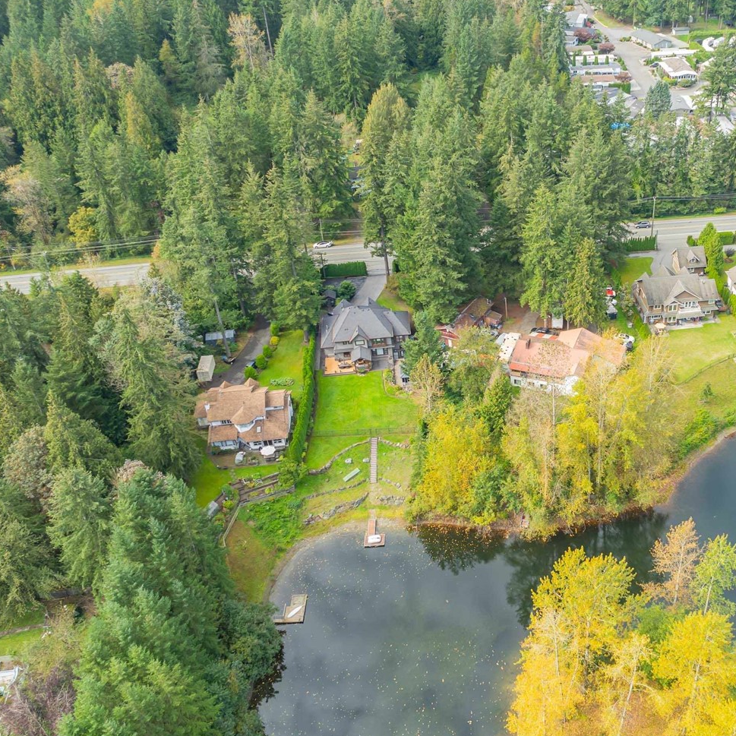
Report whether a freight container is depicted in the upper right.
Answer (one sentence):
No, no freight container can be made out in the upper right.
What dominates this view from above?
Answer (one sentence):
The bulk of the photo consists of trees.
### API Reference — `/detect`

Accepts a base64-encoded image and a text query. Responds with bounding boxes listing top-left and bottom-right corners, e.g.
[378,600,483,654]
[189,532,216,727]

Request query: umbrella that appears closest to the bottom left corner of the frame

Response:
[258,444,278,457]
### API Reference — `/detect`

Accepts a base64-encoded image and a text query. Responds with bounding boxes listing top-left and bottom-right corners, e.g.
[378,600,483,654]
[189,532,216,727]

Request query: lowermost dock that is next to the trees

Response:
[275,594,309,623]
